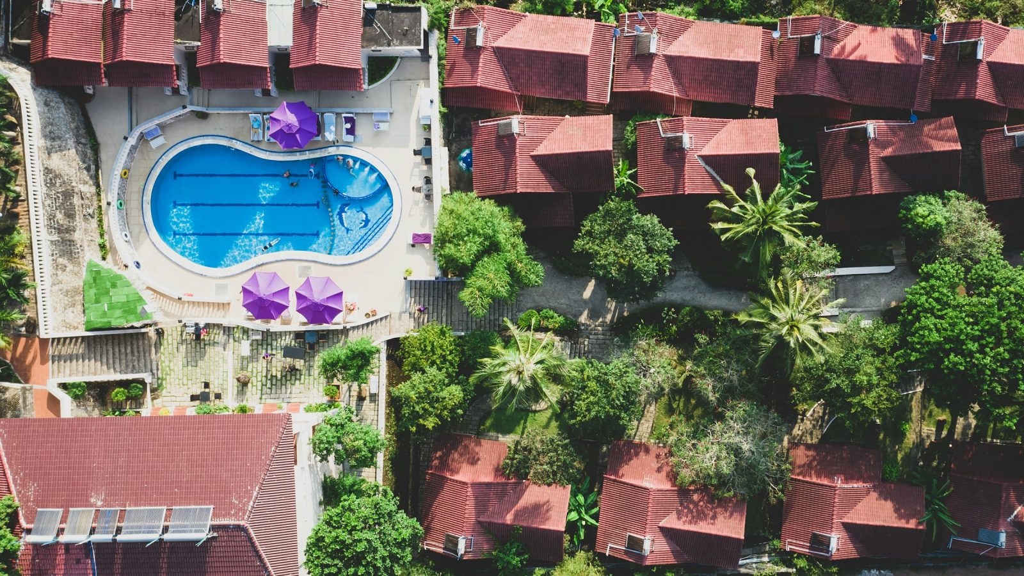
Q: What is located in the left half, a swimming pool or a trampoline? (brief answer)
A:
swimming pool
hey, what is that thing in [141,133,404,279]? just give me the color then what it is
blue swimming pool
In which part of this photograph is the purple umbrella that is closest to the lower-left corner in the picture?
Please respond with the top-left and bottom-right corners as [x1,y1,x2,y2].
[244,273,290,318]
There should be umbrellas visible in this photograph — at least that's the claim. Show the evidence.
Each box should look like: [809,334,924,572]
[298,277,343,323]
[454,145,474,178]
[244,273,290,318]
[270,101,319,150]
